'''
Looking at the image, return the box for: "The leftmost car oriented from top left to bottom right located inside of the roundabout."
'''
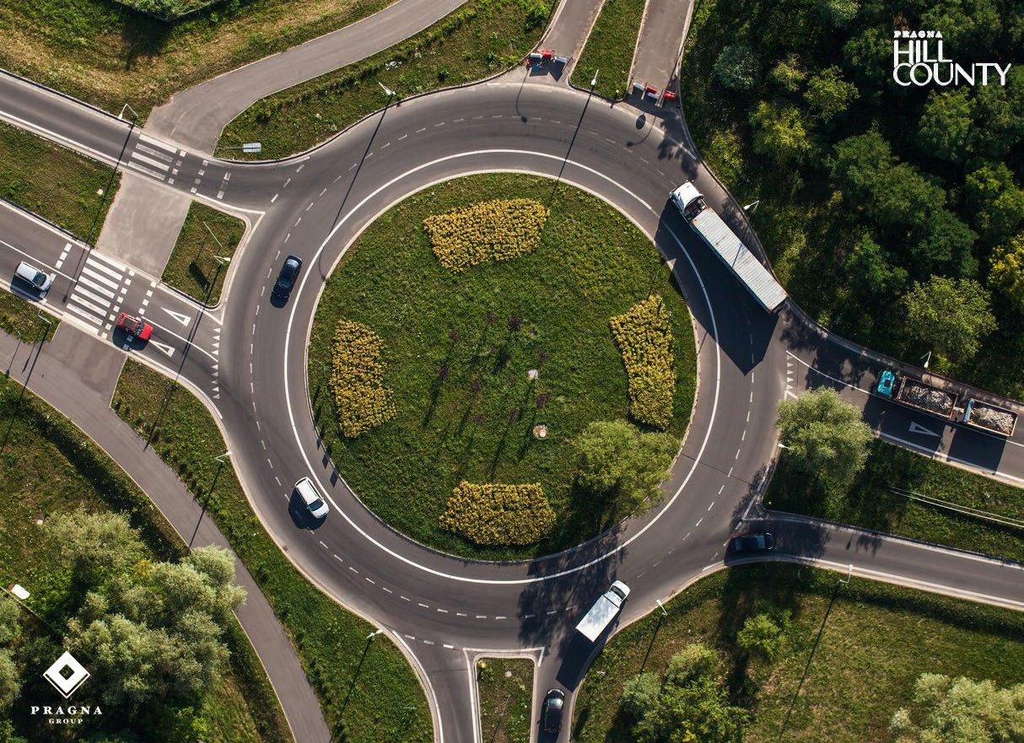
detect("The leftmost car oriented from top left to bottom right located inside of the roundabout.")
[294,476,328,518]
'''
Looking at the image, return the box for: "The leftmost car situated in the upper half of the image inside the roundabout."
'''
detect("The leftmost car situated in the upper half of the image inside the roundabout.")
[273,256,300,298]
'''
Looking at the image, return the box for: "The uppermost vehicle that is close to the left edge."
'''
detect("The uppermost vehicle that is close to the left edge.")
[13,261,52,289]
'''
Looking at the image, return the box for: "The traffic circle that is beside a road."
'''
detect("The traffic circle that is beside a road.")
[220,85,787,650]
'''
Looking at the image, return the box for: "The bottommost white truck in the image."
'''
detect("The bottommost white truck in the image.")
[573,583,626,643]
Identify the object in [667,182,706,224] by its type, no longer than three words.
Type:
truck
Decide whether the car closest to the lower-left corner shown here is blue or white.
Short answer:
white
